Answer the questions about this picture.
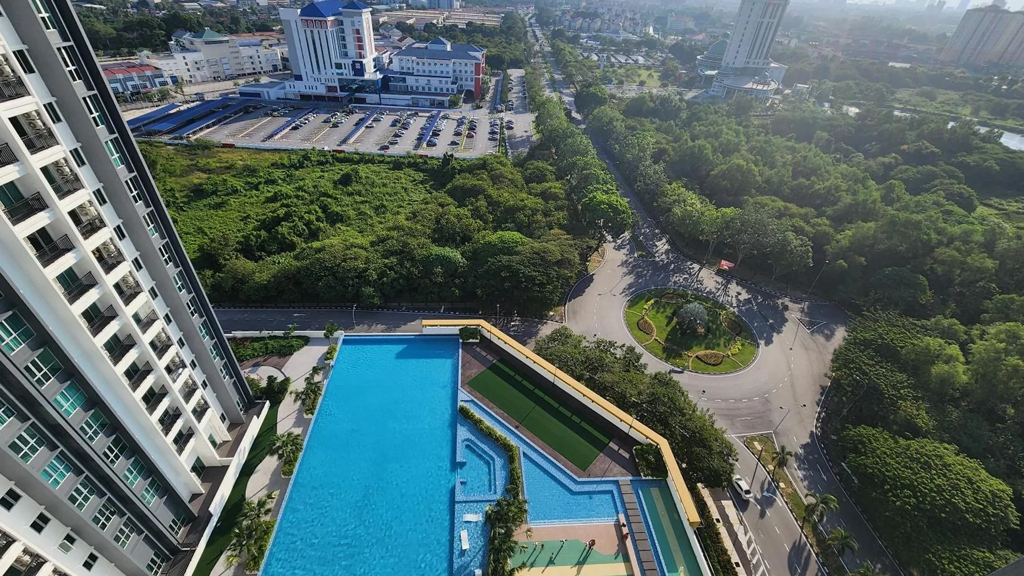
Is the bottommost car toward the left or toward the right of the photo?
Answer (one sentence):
The bottommost car appears in the right half of the scene.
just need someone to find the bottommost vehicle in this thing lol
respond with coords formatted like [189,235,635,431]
[732,475,757,501]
